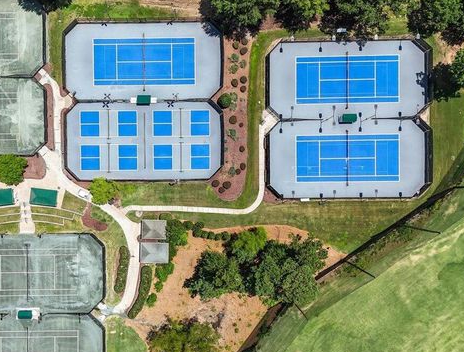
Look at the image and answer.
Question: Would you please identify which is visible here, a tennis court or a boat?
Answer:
tennis court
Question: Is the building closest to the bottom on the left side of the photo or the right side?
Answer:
left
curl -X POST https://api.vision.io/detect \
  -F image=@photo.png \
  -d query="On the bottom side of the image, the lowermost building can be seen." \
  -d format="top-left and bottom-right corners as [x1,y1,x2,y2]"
[139,242,169,263]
